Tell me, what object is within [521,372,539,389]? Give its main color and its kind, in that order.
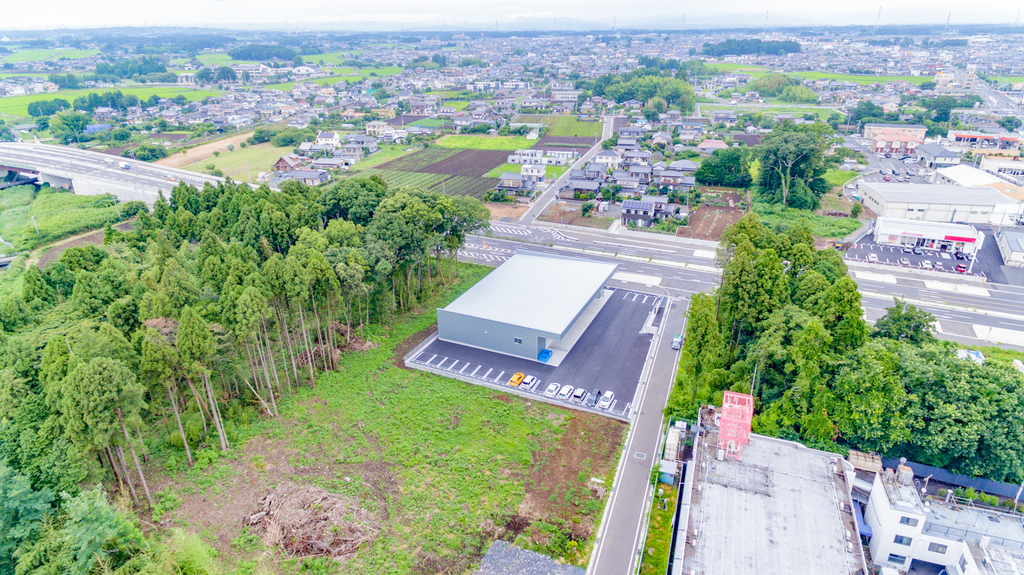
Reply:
white car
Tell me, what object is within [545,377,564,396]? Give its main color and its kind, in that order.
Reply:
white car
